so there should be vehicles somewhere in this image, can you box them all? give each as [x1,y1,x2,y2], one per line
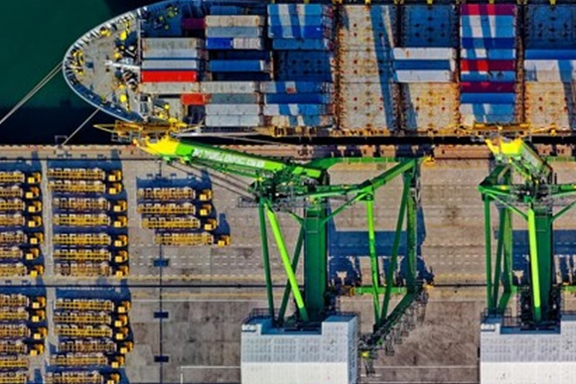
[54,314,132,328]
[54,250,132,263]
[0,232,47,245]
[49,182,126,195]
[0,310,49,324]
[156,234,233,246]
[59,341,137,356]
[54,265,133,278]
[138,189,215,202]
[0,173,45,185]
[0,341,48,356]
[56,299,134,313]
[0,326,51,340]
[138,205,215,217]
[0,188,44,201]
[0,266,47,279]
[46,373,123,384]
[143,218,220,231]
[48,169,125,181]
[0,201,46,213]
[55,326,133,340]
[0,215,46,227]
[0,248,44,261]
[53,234,132,248]
[53,199,130,212]
[50,354,128,370]
[0,296,50,310]
[53,215,130,228]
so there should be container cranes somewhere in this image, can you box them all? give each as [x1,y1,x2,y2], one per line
[451,118,576,384]
[97,118,444,384]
